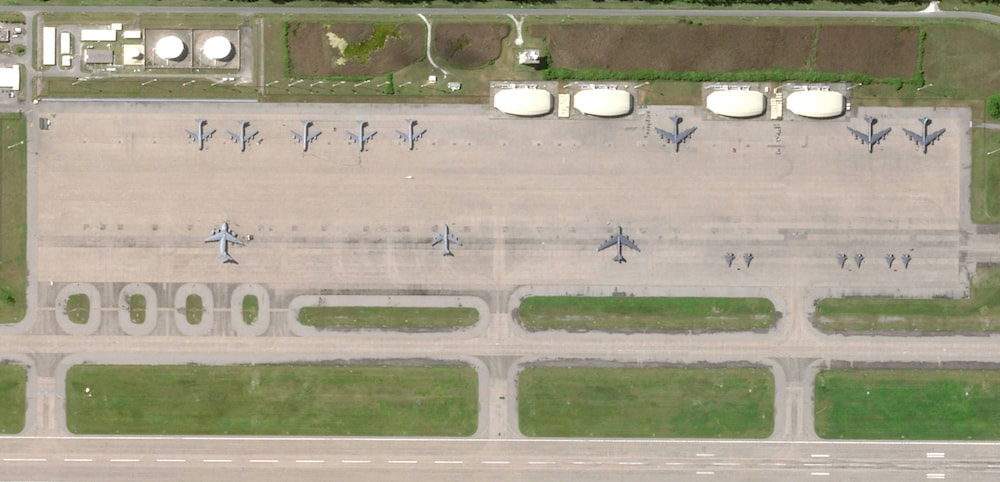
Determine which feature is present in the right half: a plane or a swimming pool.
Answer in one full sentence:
What appears in the right half is a plane.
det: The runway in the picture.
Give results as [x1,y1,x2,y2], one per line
[0,435,1000,482]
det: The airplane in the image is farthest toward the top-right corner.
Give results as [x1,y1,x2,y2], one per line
[905,116,946,152]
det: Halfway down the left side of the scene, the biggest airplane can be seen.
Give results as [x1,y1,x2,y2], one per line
[206,222,247,262]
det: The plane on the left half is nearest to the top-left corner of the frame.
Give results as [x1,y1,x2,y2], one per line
[187,119,217,150]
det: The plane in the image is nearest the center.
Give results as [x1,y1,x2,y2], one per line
[432,223,463,254]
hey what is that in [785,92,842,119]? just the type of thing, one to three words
hangar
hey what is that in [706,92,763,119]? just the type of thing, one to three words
hangar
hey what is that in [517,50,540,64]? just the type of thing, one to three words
building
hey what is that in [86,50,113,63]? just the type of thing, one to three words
building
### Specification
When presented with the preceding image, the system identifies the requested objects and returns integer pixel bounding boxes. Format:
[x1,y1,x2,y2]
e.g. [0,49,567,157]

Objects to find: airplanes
[229,120,259,151]
[727,253,736,266]
[852,116,893,152]
[855,254,865,267]
[905,116,946,152]
[432,223,463,254]
[292,120,322,151]
[657,114,698,151]
[601,226,642,262]
[903,255,913,266]
[887,254,896,267]
[745,253,755,264]
[206,222,247,262]
[396,119,428,150]
[187,119,217,150]
[348,120,378,151]
[839,254,849,267]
